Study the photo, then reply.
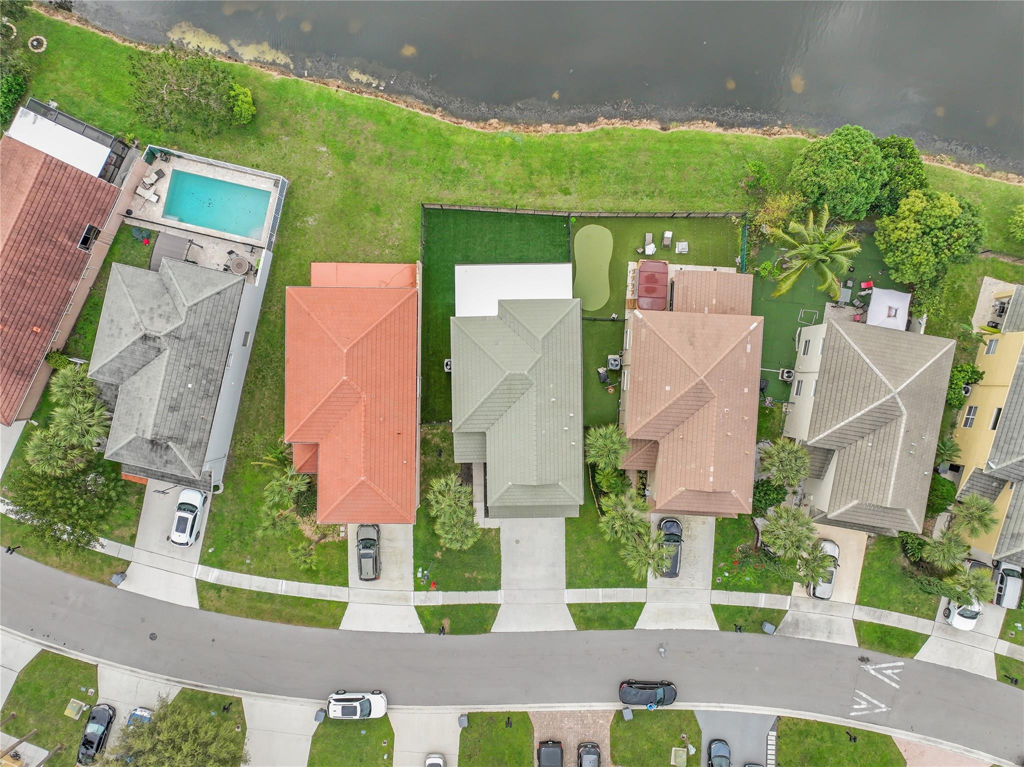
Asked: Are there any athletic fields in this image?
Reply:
No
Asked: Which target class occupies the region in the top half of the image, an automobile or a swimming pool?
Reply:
swimming pool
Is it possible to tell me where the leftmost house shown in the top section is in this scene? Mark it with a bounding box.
[0,105,132,427]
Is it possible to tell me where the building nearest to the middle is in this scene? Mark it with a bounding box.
[450,263,585,518]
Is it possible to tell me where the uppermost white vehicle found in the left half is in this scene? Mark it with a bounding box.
[169,488,206,547]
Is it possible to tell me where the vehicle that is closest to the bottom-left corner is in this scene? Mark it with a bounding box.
[74,705,114,767]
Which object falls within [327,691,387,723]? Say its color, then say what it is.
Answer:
white car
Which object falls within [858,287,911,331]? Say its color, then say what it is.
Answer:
white gazebo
